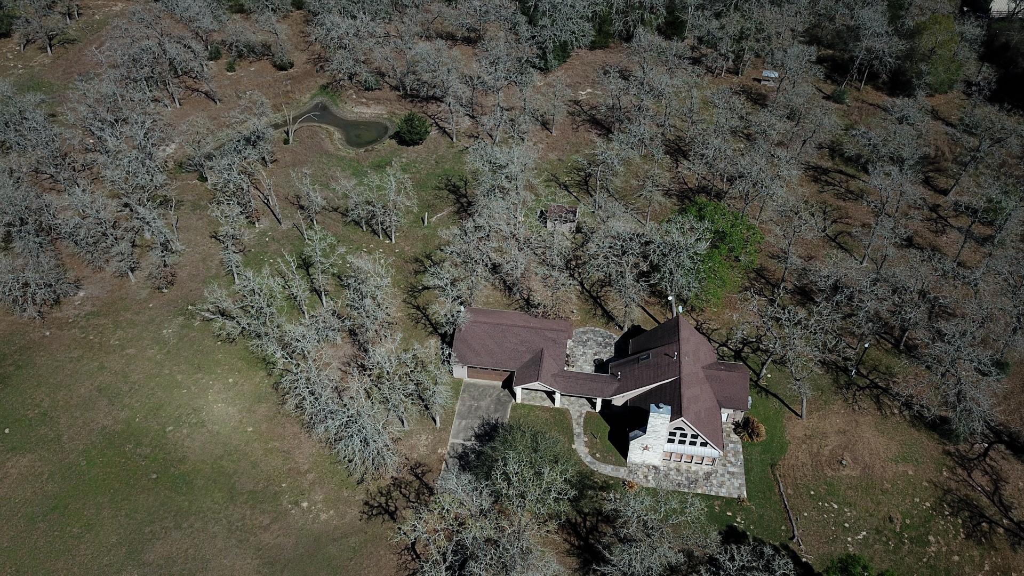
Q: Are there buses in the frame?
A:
No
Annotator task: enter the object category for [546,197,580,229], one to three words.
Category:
shed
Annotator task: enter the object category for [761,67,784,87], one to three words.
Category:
building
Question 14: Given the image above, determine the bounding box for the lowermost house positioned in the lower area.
[452,306,750,467]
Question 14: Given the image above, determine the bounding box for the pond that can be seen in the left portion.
[206,103,389,164]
